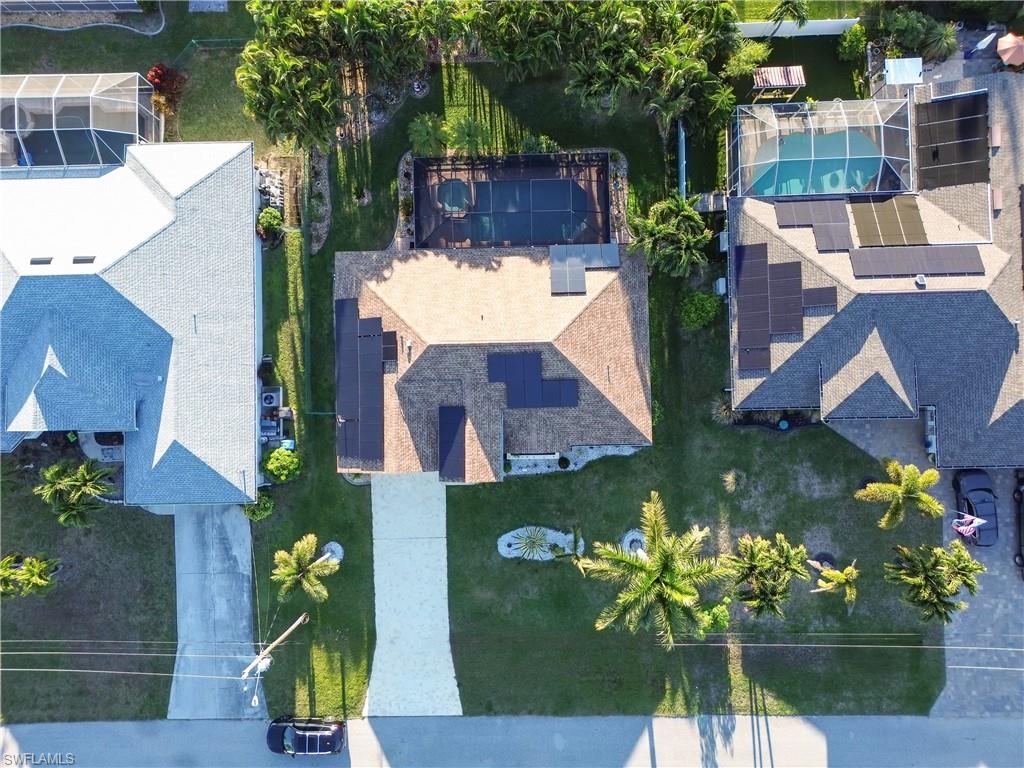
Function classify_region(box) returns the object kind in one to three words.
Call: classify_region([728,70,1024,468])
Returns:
house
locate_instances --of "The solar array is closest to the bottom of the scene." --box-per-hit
[439,406,464,481]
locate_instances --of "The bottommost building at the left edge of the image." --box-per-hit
[0,142,263,504]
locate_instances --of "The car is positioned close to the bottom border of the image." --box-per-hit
[267,716,348,758]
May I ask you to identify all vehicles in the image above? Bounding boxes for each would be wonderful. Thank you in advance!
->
[1012,478,1024,571]
[267,716,348,758]
[952,469,999,548]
